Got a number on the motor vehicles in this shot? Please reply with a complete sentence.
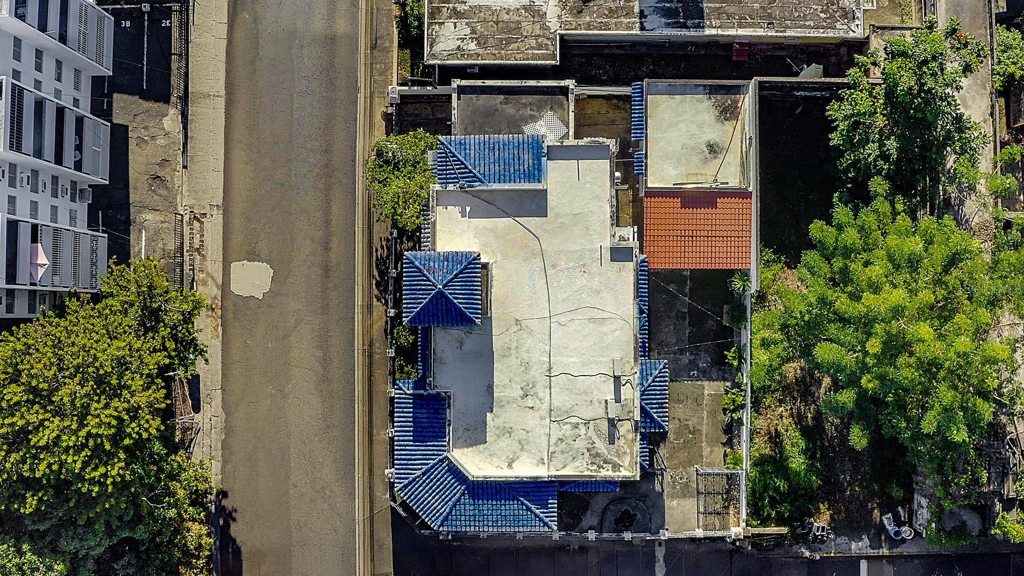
I count no motor vehicles.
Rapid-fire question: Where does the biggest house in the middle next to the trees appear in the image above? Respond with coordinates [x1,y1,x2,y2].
[393,134,669,532]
